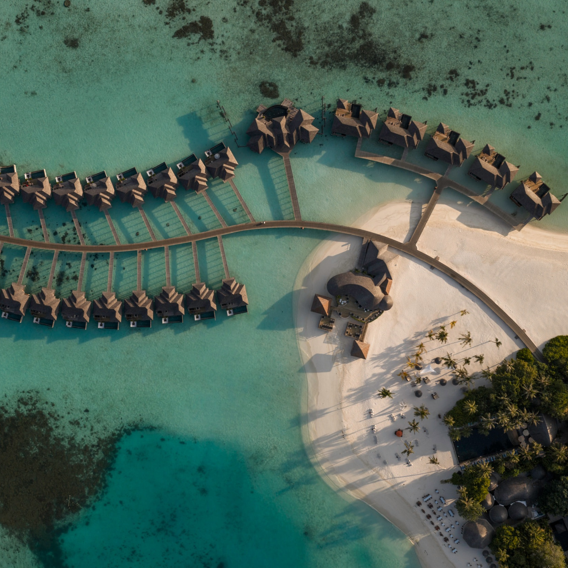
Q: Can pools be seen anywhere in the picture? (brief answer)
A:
Yes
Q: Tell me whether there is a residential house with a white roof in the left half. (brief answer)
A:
No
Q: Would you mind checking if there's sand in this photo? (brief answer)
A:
Yes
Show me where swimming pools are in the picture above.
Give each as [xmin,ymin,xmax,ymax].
[397,113,410,129]
[123,168,138,180]
[489,153,504,169]
[533,182,549,198]
[104,320,118,328]
[445,130,459,147]
[153,163,168,176]
[72,319,87,328]
[211,143,227,156]
[92,172,107,183]
[1,166,15,175]
[348,104,360,119]
[233,304,248,314]
[8,310,23,321]
[62,172,77,183]
[183,155,198,168]
[169,314,183,322]
[201,310,215,319]
[136,318,151,326]
[31,170,45,180]
[40,316,54,326]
